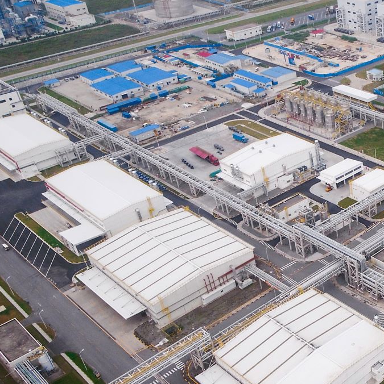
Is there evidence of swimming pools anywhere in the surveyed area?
No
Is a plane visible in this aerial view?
No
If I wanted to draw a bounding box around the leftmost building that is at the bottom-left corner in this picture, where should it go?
[0,318,46,371]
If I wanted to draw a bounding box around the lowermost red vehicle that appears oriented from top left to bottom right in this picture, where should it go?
[190,145,213,161]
